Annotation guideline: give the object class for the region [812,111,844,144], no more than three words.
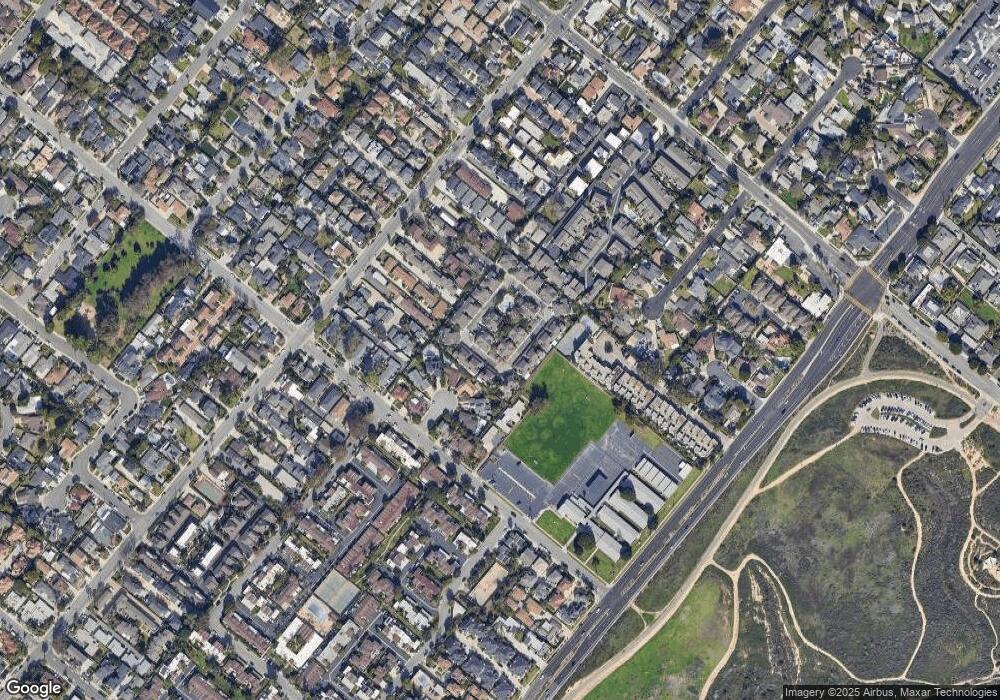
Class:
house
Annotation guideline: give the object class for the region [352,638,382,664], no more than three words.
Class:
building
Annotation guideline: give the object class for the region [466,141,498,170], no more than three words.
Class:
house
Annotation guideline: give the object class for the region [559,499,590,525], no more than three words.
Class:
building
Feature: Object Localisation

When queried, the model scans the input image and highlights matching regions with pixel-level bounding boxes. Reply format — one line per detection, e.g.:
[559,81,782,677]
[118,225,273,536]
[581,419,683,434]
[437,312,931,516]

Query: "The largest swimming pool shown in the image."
[298,595,339,633]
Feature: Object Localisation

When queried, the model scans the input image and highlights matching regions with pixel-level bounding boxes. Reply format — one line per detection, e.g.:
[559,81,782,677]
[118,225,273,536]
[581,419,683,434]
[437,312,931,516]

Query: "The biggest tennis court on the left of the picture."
[314,569,360,614]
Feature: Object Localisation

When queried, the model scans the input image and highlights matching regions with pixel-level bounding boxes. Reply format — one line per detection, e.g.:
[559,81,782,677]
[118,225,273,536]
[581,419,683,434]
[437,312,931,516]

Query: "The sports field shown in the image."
[500,347,616,488]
